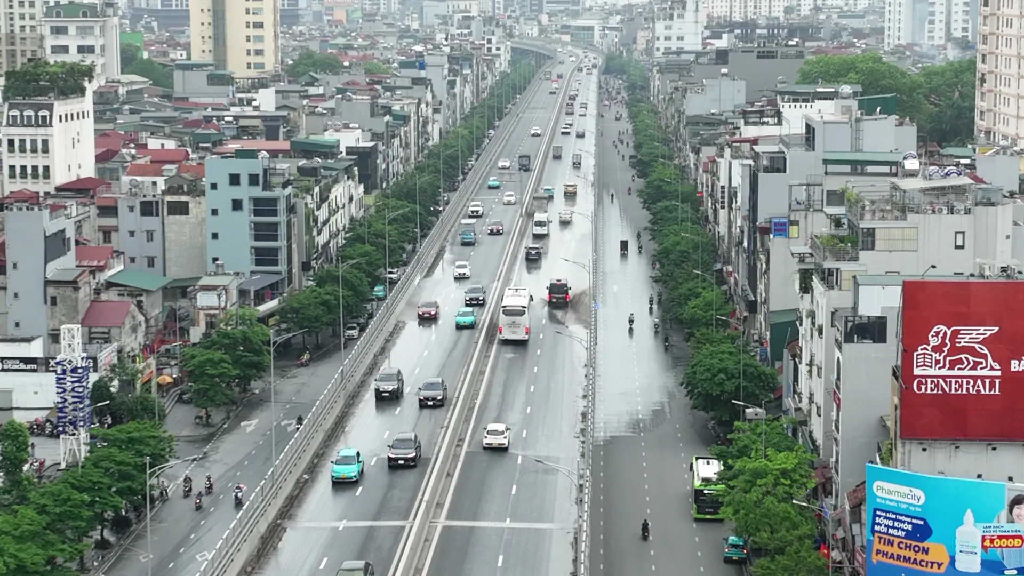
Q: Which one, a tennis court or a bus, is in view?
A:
bus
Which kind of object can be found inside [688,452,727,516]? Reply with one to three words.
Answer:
bus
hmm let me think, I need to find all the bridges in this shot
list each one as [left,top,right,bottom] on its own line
[187,32,607,576]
